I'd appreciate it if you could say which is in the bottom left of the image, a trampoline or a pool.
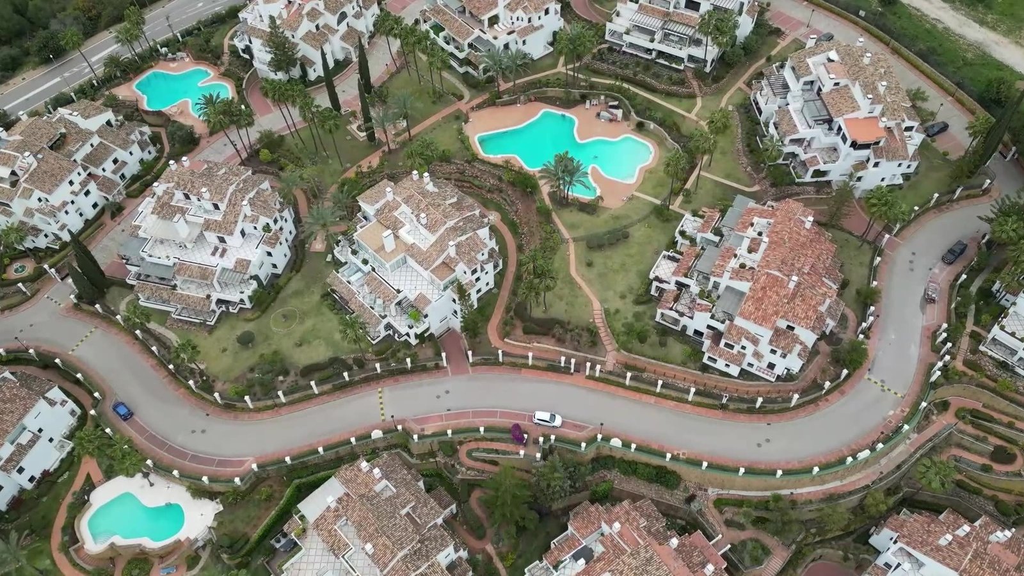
pool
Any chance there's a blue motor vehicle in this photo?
Yes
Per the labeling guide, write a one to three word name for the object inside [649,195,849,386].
house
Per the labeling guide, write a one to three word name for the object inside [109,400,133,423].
car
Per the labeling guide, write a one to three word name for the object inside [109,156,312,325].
house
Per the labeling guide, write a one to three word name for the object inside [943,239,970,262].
car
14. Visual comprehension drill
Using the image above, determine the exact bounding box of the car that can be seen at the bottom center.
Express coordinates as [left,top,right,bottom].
[531,410,564,430]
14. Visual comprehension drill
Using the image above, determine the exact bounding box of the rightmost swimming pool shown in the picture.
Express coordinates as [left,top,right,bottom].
[472,108,656,199]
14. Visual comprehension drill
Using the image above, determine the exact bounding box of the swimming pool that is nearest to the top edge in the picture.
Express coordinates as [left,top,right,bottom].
[131,66,234,121]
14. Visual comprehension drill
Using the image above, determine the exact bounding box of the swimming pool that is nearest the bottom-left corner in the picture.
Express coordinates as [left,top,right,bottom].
[83,488,189,549]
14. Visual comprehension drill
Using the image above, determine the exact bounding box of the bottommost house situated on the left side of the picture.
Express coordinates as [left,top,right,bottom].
[278,451,469,576]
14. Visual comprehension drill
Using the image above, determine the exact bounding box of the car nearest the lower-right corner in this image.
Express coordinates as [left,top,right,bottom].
[925,280,942,302]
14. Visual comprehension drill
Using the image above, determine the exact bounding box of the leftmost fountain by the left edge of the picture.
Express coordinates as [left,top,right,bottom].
[8,260,30,277]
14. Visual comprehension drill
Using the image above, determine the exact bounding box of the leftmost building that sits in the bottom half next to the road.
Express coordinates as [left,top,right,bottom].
[0,374,86,527]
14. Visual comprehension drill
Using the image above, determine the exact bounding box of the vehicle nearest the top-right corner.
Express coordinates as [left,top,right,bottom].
[926,120,951,135]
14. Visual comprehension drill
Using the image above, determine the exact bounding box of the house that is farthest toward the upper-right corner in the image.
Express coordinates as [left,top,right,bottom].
[745,35,925,204]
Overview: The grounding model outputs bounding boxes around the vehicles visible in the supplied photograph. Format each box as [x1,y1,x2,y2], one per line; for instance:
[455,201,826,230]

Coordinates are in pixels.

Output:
[926,120,951,135]
[925,280,942,302]
[531,410,564,430]
[943,239,970,262]
[109,400,133,423]
[818,29,835,40]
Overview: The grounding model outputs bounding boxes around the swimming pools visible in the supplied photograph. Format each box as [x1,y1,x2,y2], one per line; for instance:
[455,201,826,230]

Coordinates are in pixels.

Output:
[131,66,234,121]
[472,108,656,199]
[83,488,189,549]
